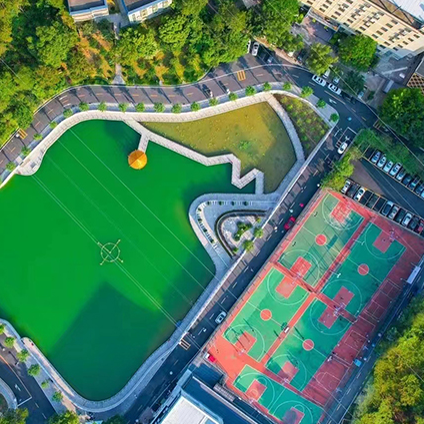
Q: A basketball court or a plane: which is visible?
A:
basketball court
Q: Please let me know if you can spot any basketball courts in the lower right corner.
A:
Yes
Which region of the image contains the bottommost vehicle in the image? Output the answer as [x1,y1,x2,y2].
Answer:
[214,309,227,324]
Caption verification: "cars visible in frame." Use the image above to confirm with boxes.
[340,179,351,194]
[362,191,373,206]
[401,173,412,187]
[354,187,365,201]
[375,154,387,169]
[311,74,326,86]
[400,212,412,227]
[330,72,341,85]
[251,41,259,56]
[264,52,275,66]
[387,205,399,220]
[326,82,341,93]
[415,219,424,234]
[337,89,352,102]
[321,70,330,80]
[381,159,393,173]
[388,162,400,177]
[347,182,358,197]
[408,176,420,191]
[369,149,381,165]
[283,215,296,230]
[414,180,424,195]
[381,201,393,216]
[214,309,227,324]
[393,208,404,223]
[336,141,348,155]
[408,216,419,230]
